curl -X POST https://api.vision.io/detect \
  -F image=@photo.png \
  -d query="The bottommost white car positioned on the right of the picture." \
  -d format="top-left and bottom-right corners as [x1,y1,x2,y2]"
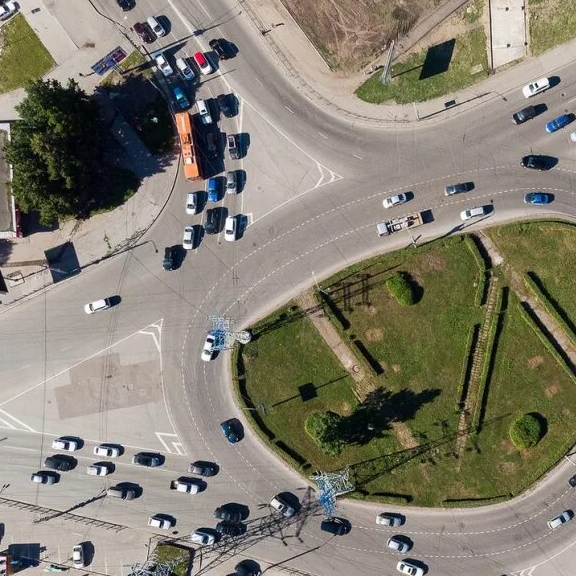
[396,560,423,576]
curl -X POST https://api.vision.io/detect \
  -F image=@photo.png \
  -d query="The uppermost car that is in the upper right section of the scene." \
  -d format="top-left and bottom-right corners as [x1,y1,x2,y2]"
[522,78,549,97]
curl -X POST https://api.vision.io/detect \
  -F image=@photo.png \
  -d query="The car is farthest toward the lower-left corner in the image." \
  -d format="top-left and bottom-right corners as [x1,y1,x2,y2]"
[70,544,85,567]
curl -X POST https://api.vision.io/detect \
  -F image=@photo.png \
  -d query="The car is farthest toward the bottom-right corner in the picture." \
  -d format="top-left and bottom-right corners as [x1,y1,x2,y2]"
[548,509,574,529]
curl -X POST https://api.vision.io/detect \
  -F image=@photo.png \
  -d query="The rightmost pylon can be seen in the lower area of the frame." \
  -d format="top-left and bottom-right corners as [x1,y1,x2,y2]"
[317,465,357,516]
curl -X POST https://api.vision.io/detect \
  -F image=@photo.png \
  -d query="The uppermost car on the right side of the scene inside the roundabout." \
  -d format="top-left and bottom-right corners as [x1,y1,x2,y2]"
[518,154,548,169]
